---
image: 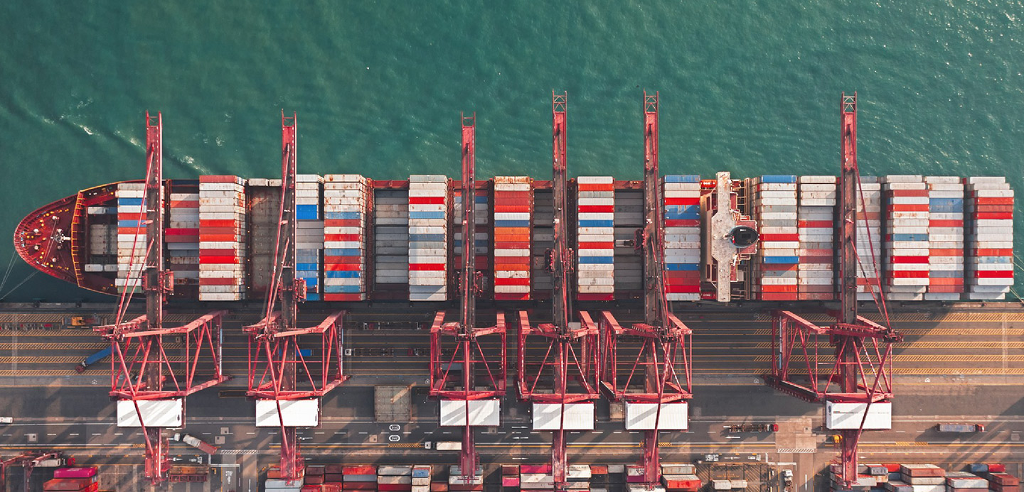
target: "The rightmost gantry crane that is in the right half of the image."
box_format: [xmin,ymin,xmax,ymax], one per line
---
[759,92,897,490]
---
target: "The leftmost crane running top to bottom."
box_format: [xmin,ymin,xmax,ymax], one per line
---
[100,112,246,490]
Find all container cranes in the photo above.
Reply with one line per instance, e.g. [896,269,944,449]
[428,112,512,490]
[100,112,246,490]
[759,92,897,490]
[245,112,360,490]
[0,452,59,492]
[512,92,600,490]
[591,92,694,490]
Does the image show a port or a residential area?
port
